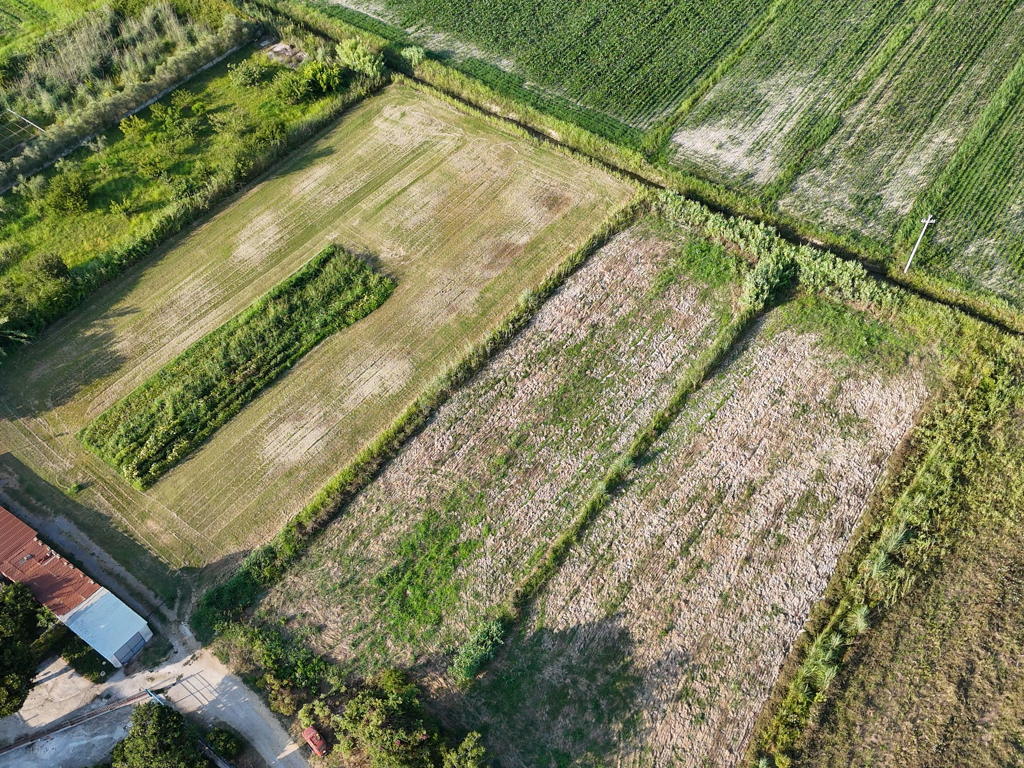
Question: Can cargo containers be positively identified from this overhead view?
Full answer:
No, I find no cargo container anywhere in the image.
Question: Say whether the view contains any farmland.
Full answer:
Yes, farmland shows up in the scene.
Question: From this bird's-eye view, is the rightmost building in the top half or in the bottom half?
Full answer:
The bottom half of the photo is where the rightmost building is.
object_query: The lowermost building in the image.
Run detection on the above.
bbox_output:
[70,589,156,669]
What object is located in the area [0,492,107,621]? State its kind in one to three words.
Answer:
shed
